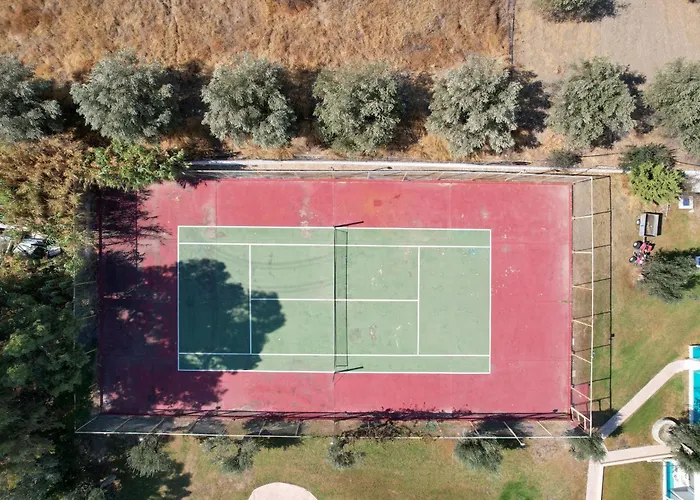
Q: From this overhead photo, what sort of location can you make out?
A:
sports ground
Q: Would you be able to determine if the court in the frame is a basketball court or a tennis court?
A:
tennis court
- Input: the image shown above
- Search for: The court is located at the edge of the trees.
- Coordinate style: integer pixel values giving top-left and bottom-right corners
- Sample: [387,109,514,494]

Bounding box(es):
[96,178,588,434]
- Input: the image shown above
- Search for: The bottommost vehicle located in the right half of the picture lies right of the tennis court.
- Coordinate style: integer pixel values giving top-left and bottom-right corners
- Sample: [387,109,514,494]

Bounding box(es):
[629,239,657,267]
